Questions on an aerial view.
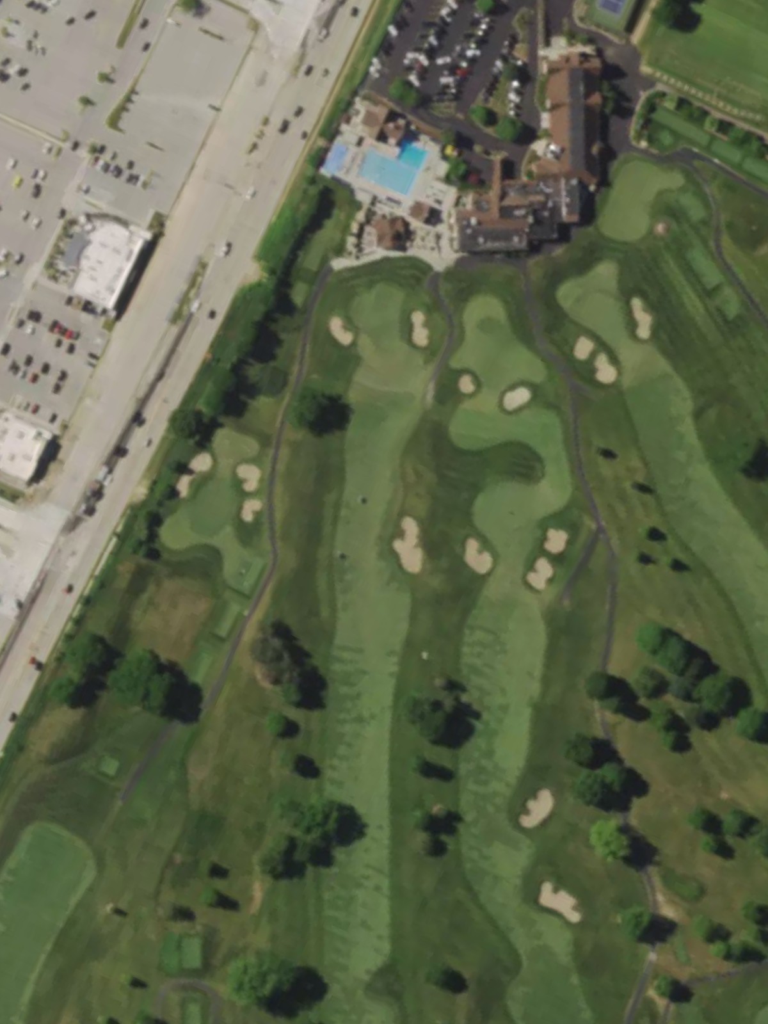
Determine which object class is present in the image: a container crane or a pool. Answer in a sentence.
Visible in the photo is a pool.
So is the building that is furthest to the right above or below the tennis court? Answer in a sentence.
The position of the building that is furthest to the right is below the tennis court.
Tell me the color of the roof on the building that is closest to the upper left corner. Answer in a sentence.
From above, the roof of the building that is closest to the upper left corner looks white.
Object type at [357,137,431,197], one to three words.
swimming pool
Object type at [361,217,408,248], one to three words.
building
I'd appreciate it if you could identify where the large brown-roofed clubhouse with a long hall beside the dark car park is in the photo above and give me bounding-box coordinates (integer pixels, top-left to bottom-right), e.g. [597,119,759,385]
[457,51,604,254]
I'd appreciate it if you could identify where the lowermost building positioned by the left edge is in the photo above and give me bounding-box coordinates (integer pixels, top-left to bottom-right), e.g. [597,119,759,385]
[0,408,52,483]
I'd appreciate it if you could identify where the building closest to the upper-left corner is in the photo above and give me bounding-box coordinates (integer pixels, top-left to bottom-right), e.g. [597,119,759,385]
[63,213,152,316]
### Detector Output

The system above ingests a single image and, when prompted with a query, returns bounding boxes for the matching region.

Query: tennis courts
[575,0,642,39]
